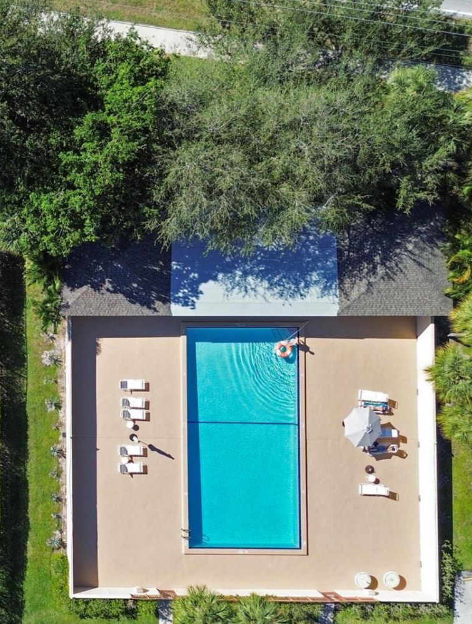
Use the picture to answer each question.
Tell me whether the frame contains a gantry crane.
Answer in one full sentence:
No, the frame has no gantry crane in it.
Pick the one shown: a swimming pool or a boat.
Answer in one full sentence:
There is a swimming pool in the scene.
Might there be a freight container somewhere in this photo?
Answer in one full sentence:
No, there appears to be no freight container in this shot.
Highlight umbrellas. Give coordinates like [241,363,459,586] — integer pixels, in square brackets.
[129,432,142,442]
[342,408,379,448]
